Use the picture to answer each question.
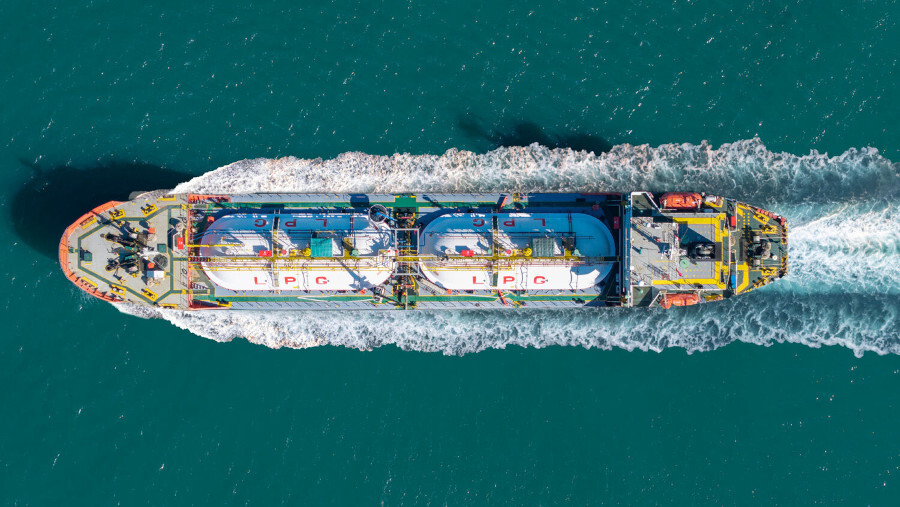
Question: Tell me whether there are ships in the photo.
Yes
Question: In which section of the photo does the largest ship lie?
center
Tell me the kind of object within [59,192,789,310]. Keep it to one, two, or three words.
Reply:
ship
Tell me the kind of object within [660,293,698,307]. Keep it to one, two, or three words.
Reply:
boat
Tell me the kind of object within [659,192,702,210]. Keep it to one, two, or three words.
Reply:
boat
